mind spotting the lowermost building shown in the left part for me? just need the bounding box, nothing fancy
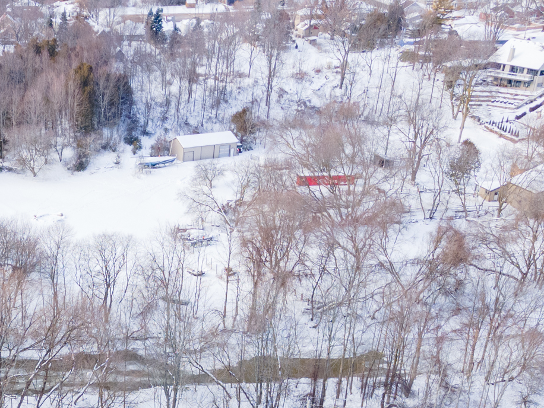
[166,126,240,160]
